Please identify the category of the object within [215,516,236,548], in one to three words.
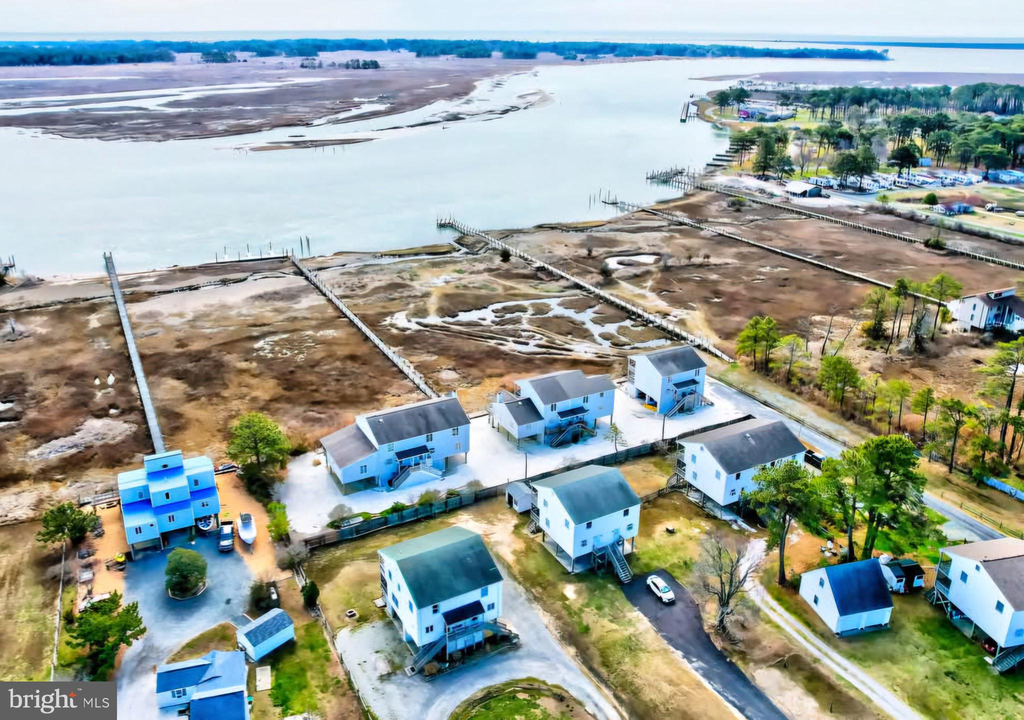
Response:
truck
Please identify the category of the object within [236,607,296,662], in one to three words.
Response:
shed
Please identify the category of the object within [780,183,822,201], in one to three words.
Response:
building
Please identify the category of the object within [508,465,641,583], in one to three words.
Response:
house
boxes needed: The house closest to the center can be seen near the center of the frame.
[489,369,617,452]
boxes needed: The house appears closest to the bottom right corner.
[914,537,1024,679]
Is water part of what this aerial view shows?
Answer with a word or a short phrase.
Yes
